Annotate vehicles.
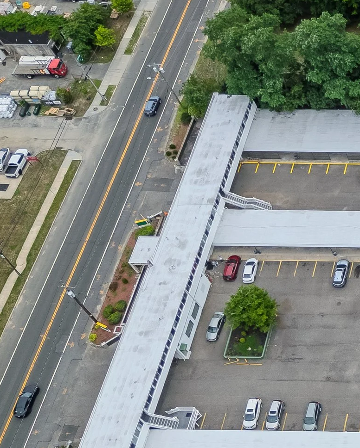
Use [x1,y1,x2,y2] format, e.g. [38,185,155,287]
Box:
[222,255,242,283]
[264,398,285,431]
[241,257,260,286]
[15,385,41,419]
[332,259,350,288]
[205,311,226,343]
[142,94,164,118]
[301,399,323,432]
[2,148,32,179]
[0,149,12,173]
[241,397,264,431]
